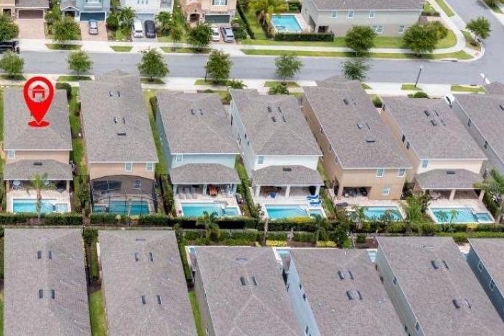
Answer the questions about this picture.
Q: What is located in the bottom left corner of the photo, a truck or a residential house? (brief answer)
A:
residential house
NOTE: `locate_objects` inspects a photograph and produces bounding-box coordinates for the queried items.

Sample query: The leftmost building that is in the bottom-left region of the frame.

[3,228,91,336]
